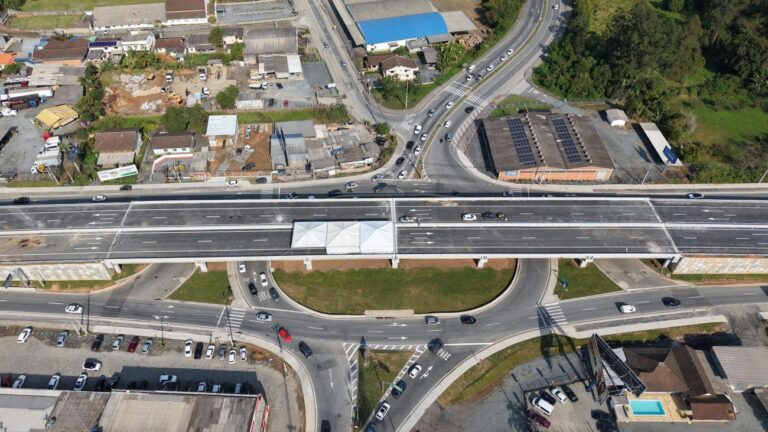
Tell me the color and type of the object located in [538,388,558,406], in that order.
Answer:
black car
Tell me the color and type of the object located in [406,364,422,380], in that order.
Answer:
white car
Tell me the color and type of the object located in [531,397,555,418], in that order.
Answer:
white vehicle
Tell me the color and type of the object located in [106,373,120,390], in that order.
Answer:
black car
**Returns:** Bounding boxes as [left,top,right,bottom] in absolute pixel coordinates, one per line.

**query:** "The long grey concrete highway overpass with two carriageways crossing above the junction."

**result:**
[0,199,768,267]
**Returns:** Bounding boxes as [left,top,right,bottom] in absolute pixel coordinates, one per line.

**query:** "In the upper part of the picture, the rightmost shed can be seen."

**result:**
[640,123,680,172]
